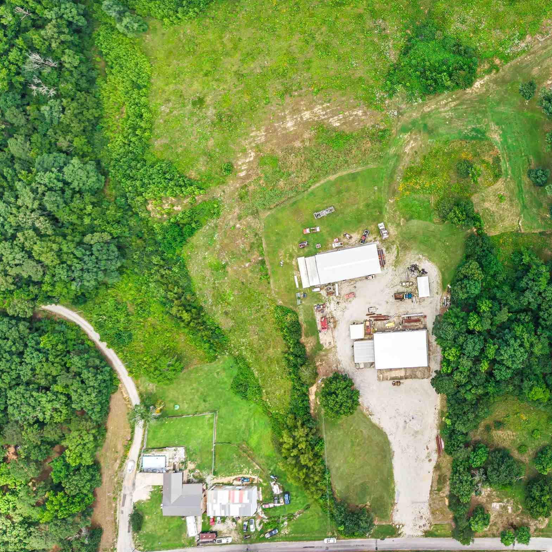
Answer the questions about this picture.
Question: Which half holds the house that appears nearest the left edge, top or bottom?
bottom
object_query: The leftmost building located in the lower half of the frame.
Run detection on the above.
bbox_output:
[163,471,204,516]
